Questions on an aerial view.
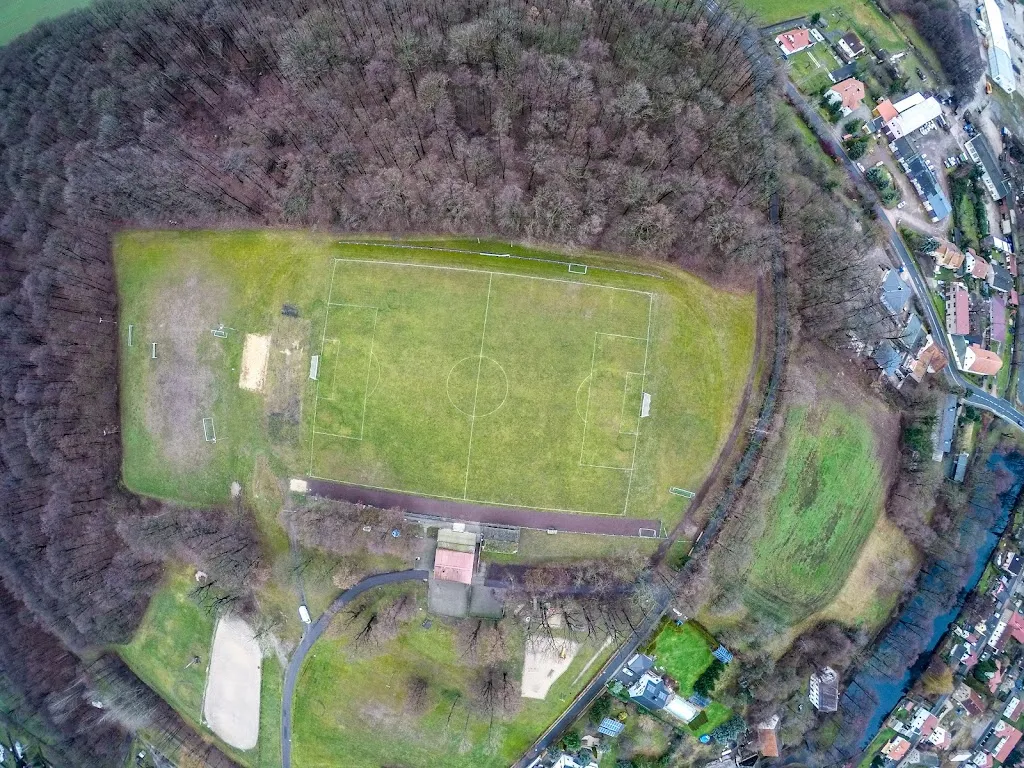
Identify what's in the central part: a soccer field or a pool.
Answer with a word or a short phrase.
soccer field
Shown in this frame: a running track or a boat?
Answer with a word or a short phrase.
running track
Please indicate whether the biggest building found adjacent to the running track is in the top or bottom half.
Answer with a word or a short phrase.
bottom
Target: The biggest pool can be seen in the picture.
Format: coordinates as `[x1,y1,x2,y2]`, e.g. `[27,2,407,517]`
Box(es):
[669,694,697,721]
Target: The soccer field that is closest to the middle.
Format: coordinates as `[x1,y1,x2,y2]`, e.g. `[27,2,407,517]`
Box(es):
[305,255,658,518]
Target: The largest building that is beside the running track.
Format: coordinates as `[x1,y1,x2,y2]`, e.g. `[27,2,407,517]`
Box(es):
[434,529,477,586]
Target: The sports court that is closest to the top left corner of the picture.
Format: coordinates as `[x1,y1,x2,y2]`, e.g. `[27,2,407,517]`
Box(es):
[239,334,271,391]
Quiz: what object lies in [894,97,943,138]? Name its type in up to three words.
building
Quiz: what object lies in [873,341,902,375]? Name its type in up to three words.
house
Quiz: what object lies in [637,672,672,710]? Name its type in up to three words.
house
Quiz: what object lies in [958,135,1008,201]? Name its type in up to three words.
shed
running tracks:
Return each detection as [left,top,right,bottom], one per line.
[306,480,661,538]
